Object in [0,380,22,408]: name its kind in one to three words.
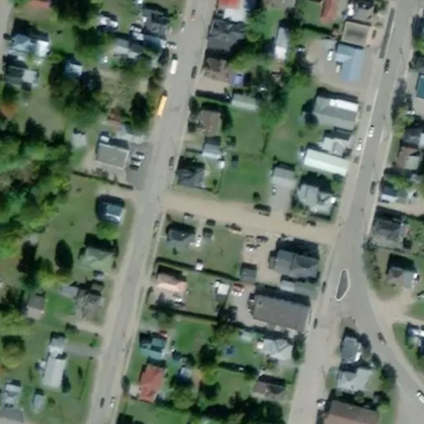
house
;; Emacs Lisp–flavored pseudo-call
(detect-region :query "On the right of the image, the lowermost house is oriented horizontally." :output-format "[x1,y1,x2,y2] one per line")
[325,399,380,424]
